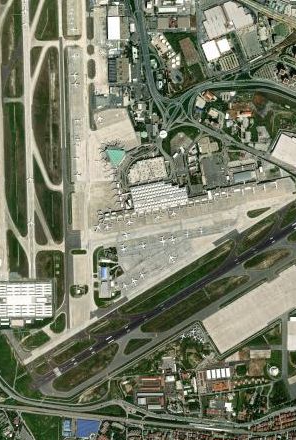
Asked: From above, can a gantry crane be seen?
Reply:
No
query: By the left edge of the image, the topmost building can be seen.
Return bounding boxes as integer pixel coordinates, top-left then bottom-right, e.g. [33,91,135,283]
[0,284,52,317]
